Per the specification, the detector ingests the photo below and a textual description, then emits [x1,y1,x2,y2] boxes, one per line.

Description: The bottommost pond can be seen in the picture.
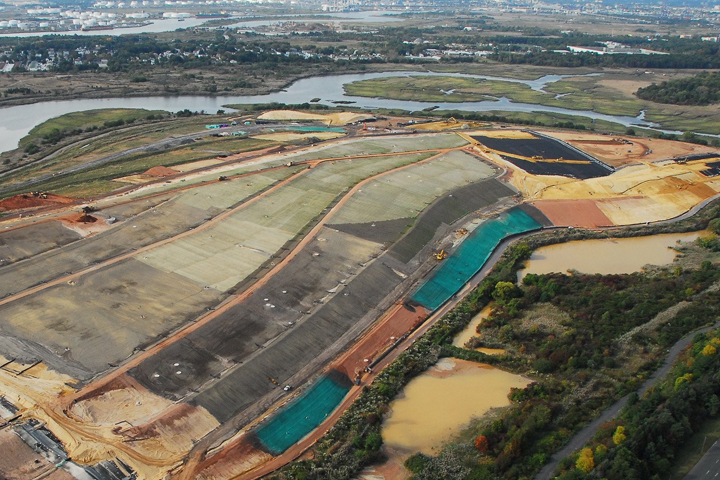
[383,358,536,453]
